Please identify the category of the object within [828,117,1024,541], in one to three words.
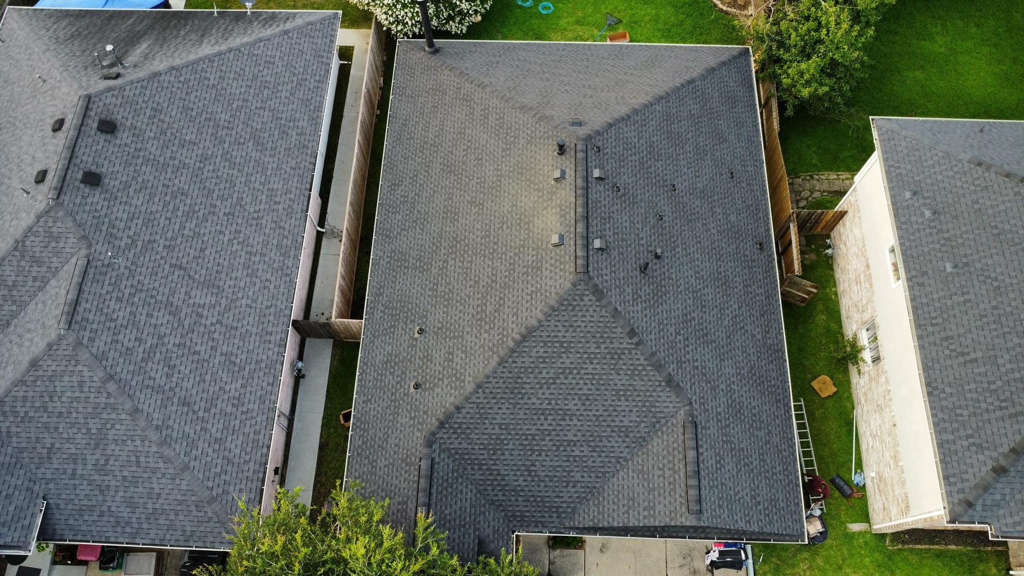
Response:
house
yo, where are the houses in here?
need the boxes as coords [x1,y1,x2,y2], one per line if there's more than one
[0,0,354,551]
[338,0,807,576]
[828,117,1024,541]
